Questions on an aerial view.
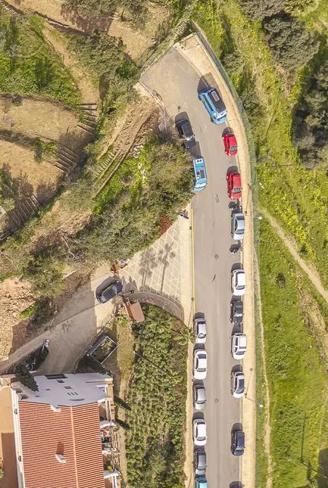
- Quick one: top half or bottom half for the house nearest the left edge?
bottom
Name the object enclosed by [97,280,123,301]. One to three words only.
car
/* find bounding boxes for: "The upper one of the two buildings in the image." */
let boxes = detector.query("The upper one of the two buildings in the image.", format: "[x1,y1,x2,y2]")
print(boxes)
[118,294,146,321]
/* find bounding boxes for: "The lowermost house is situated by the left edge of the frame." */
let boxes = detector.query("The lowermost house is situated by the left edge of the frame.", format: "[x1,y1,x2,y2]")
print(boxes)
[0,373,115,488]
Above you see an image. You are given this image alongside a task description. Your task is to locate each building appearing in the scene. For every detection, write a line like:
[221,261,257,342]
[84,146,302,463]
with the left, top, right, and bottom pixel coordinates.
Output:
[118,294,146,321]
[0,373,115,488]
